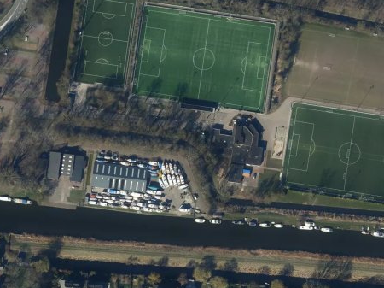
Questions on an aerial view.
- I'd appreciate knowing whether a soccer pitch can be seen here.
Yes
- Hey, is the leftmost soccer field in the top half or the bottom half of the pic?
top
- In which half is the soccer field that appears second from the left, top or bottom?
top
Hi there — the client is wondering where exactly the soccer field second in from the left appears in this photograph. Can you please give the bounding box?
[132,2,279,113]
